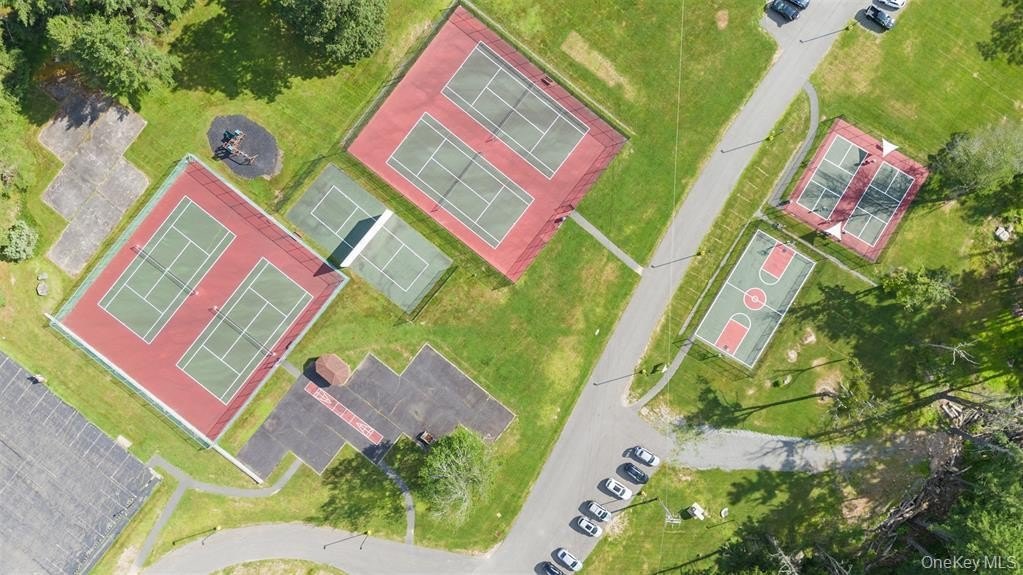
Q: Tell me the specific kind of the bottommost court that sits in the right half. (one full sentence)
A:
From above, the bottommost court that sits in the right half can be identified as a basketball court.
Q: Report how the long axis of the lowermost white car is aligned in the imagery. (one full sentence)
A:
The lowermost white car is oriented diagonally.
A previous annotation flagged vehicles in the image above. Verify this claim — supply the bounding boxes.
[877,0,905,9]
[770,0,800,22]
[862,3,896,30]
[575,515,602,537]
[633,445,660,468]
[587,499,612,522]
[604,476,633,500]
[787,0,812,10]
[539,559,564,575]
[622,461,651,485]
[556,547,583,571]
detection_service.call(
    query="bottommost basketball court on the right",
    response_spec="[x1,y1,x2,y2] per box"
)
[694,230,816,368]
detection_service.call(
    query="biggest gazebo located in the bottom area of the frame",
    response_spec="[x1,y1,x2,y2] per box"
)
[316,352,353,385]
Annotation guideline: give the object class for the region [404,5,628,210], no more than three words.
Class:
tennis court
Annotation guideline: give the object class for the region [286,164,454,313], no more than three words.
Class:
tennis court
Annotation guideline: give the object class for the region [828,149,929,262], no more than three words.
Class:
sports court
